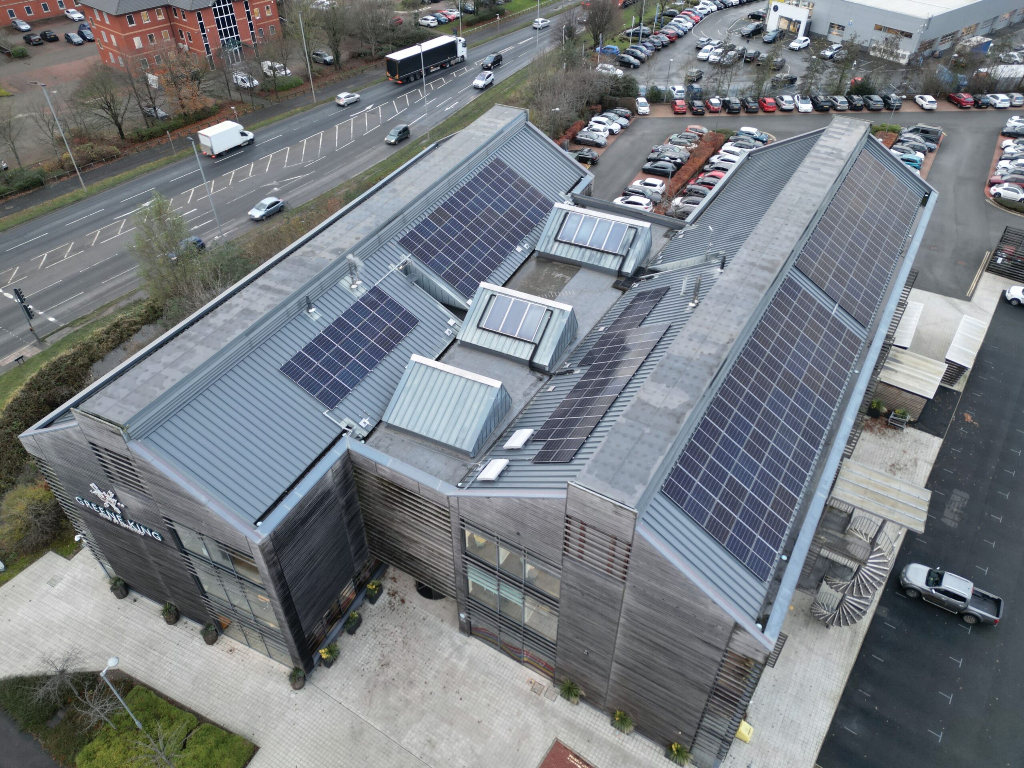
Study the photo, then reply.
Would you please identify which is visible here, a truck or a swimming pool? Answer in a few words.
truck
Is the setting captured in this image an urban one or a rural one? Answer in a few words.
urban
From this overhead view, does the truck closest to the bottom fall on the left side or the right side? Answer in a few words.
right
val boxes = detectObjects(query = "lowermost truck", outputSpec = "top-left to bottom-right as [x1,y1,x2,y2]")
[901,571,1007,642]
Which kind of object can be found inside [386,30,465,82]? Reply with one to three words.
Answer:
truck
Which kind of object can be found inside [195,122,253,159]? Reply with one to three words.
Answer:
van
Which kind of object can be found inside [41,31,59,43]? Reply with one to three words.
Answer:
vehicle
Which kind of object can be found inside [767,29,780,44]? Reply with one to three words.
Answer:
vehicle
